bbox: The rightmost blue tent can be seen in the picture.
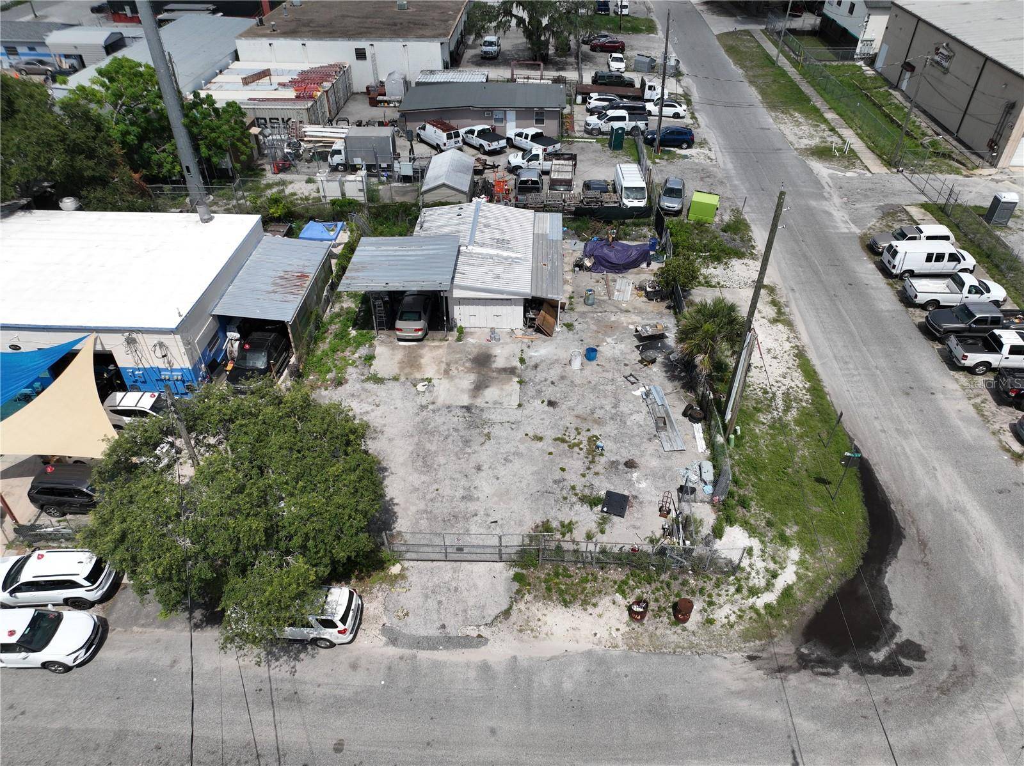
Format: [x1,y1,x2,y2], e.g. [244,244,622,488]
[300,222,346,248]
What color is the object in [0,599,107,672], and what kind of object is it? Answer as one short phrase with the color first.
white car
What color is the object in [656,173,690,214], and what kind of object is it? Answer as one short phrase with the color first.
gray car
